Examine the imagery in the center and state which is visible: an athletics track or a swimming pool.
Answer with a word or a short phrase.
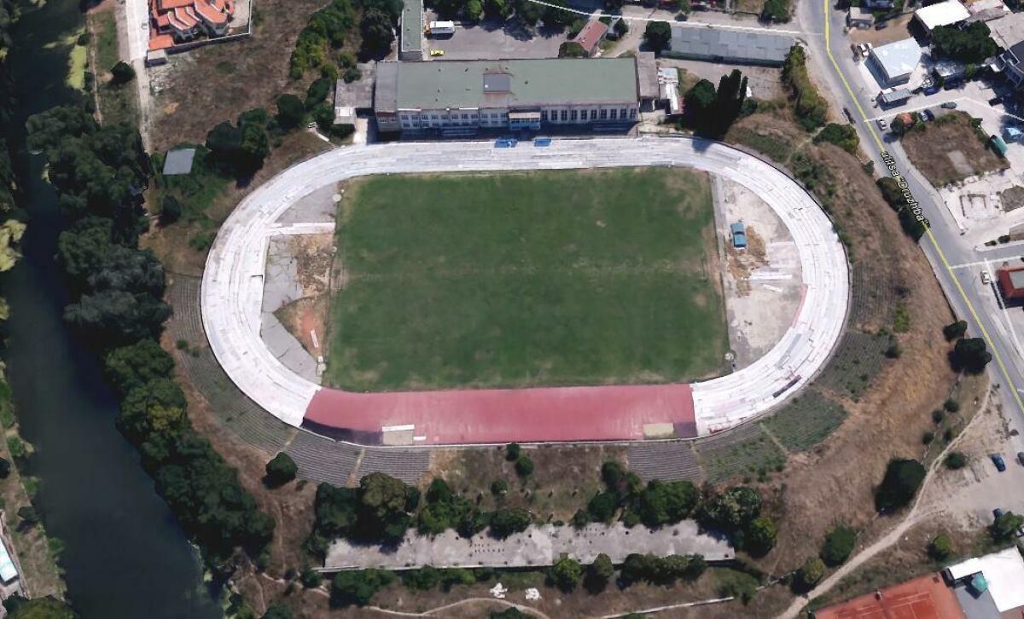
athletics track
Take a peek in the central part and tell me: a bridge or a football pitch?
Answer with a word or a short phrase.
football pitch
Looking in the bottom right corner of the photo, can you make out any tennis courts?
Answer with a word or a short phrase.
Yes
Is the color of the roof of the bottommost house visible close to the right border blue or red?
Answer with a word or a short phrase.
red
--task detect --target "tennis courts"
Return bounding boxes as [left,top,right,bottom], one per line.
[879,572,972,619]
[814,592,895,619]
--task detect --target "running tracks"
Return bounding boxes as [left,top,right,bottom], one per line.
[198,134,853,449]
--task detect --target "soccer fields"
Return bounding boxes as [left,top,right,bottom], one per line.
[324,167,731,390]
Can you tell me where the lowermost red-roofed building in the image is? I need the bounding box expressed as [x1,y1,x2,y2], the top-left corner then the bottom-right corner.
[995,263,1024,306]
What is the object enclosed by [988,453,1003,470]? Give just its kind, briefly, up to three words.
car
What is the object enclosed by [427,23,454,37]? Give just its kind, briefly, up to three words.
vehicle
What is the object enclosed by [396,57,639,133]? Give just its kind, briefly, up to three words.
building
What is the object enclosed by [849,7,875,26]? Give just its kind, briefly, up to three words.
shed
